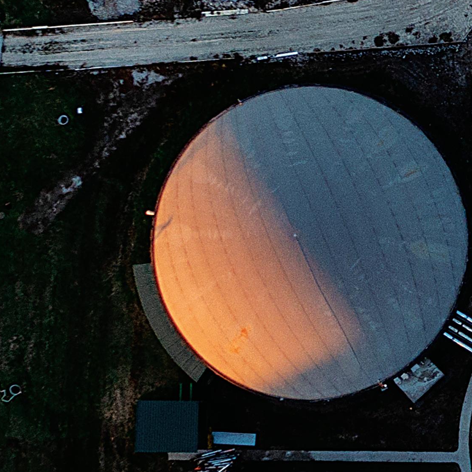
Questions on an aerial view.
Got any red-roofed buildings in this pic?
No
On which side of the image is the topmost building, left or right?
right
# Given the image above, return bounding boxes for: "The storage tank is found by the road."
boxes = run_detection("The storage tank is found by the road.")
[135,83,472,405]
